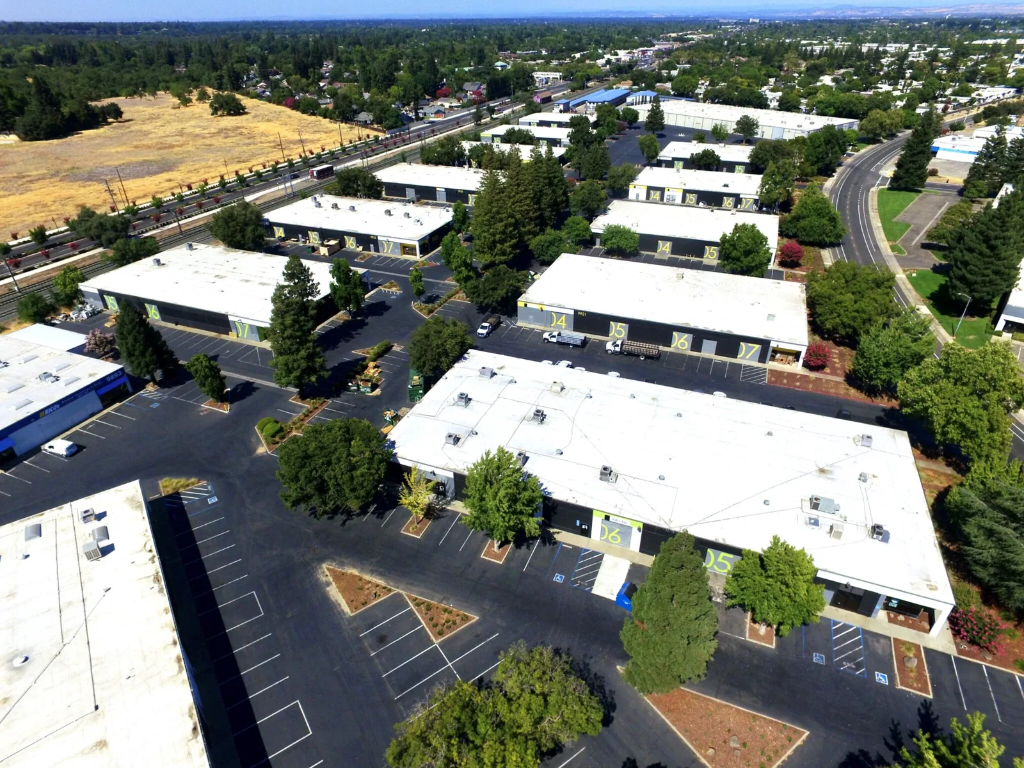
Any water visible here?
No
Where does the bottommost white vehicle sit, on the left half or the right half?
left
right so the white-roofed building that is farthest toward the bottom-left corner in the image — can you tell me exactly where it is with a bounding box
[0,480,215,768]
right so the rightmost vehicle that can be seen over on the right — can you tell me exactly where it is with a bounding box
[832,408,853,420]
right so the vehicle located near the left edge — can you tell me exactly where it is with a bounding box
[37,432,76,455]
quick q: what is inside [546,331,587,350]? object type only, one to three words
vehicle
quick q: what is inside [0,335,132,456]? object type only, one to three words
building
